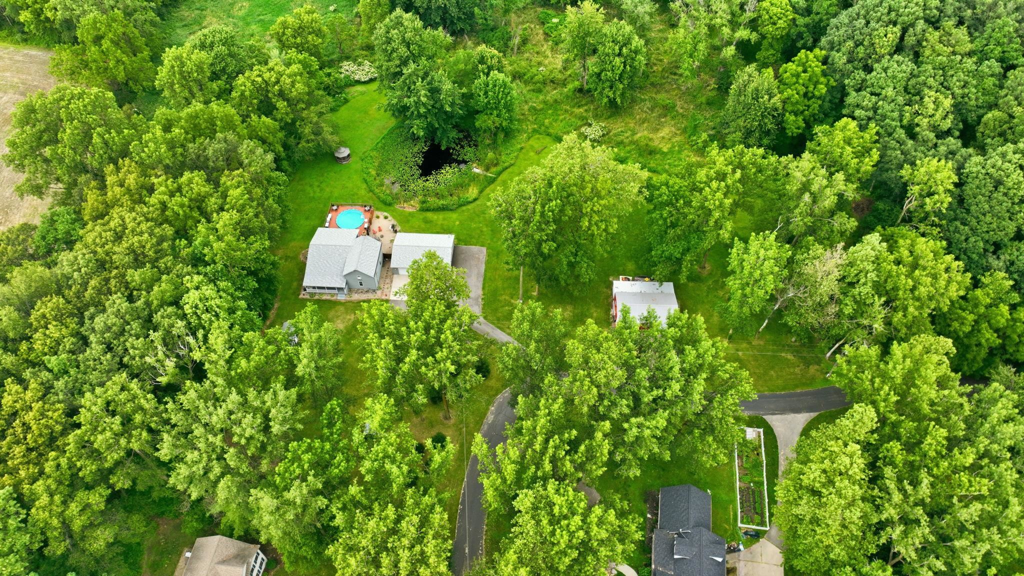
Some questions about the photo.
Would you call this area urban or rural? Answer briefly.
rural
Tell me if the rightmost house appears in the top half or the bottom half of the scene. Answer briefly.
bottom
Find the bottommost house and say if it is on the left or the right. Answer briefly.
left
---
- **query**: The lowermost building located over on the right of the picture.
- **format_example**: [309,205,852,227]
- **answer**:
[648,485,730,576]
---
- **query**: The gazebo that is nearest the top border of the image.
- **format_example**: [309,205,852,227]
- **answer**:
[331,140,350,159]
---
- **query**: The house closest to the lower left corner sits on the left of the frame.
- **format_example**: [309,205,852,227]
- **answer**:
[182,537,262,576]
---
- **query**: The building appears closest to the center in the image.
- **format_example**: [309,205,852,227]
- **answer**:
[390,233,456,276]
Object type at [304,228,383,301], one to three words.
house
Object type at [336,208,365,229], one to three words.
swimming pool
